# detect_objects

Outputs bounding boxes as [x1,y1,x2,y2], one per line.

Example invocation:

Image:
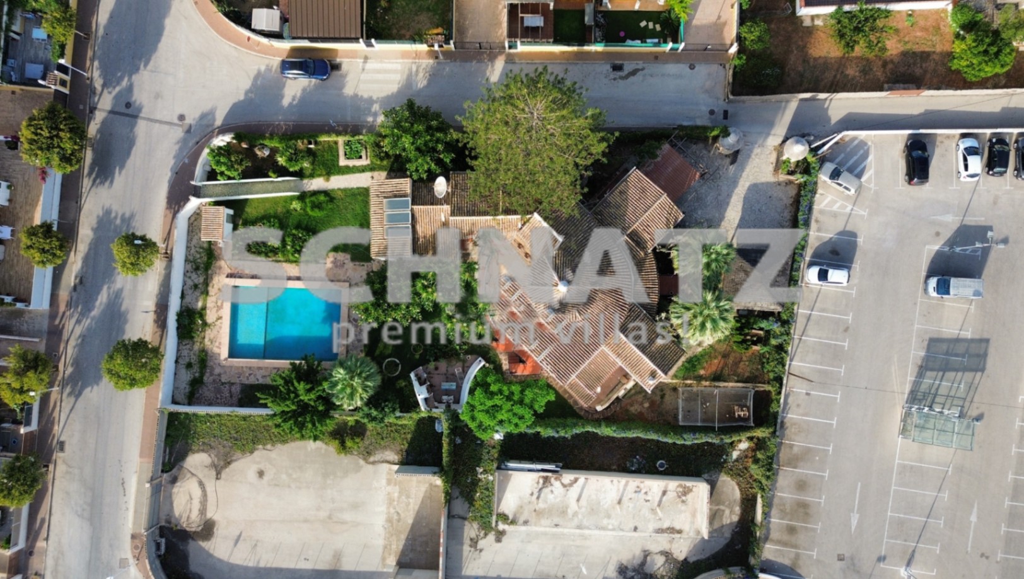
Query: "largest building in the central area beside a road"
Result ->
[369,166,686,412]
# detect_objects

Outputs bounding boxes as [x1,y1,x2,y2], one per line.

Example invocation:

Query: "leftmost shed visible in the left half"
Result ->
[199,207,240,241]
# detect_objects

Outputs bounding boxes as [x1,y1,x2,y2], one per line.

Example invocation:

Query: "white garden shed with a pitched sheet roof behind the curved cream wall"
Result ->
[252,8,282,36]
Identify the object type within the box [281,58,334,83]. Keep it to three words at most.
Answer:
car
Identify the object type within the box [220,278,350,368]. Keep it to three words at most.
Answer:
swimming pool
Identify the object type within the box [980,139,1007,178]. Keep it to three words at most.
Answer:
car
